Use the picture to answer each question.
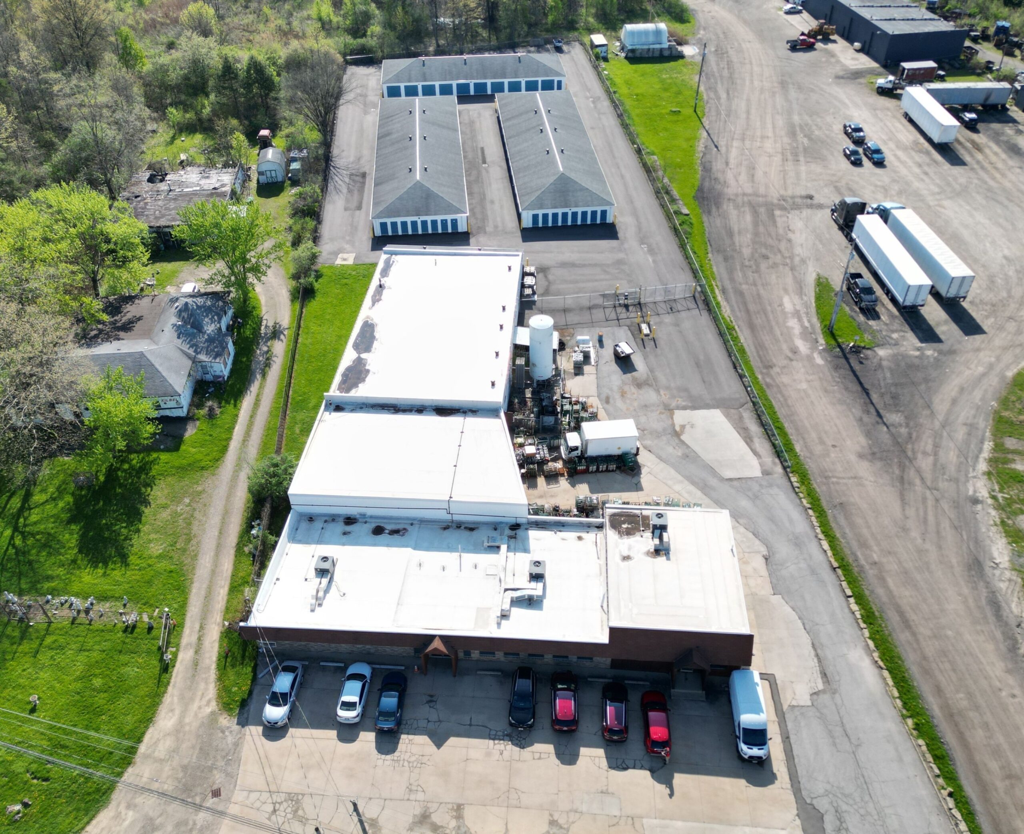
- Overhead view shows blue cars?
Yes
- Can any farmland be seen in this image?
No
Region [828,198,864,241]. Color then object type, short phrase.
black truck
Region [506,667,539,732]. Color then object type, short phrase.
black car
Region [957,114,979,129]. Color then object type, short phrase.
black car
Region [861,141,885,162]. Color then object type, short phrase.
blue car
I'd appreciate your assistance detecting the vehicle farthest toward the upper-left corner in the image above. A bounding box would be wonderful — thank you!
[255,133,275,152]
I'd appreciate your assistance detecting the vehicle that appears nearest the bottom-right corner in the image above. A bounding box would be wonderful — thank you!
[725,670,773,762]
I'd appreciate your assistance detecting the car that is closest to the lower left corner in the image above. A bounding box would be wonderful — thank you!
[264,660,305,727]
